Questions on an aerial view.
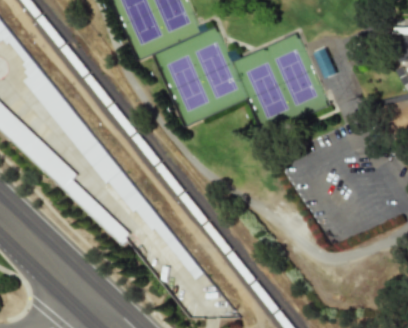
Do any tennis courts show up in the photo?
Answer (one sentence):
Yes, I can see a tennis court in this picture.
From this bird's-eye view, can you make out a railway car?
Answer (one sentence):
Yes, there is a railway car in the image.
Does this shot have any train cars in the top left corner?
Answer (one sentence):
Yes, the scene does show a train car in the top left corner.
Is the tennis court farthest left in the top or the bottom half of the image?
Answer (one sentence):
Seen from above, the tennis court farthest left lies in the top half of the view.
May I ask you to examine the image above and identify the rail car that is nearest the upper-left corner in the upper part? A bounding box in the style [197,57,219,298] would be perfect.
[20,0,41,18]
